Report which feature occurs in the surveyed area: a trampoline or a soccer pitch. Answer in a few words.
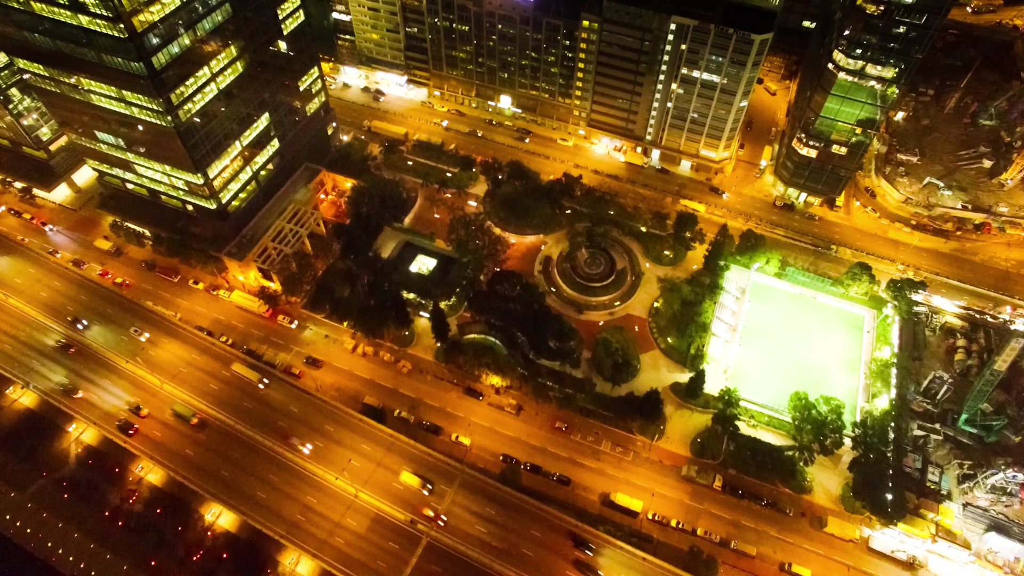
soccer pitch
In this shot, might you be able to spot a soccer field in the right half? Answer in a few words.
Yes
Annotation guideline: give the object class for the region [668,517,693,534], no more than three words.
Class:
car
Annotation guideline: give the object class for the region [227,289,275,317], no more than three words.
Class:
truck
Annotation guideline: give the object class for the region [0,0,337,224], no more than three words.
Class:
building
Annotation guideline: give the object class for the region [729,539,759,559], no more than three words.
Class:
vehicle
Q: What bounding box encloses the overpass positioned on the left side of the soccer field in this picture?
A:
[0,230,702,576]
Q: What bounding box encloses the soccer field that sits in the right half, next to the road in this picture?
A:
[727,280,866,443]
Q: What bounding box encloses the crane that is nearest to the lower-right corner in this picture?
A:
[943,322,1024,453]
